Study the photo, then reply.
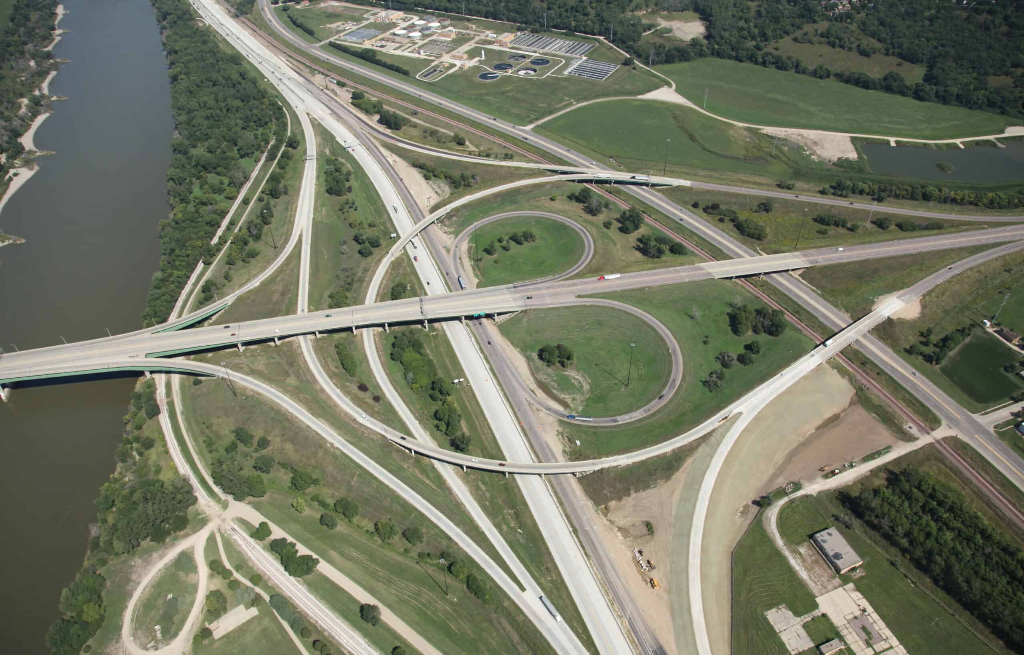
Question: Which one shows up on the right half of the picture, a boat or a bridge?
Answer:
bridge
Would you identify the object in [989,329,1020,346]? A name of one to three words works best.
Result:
house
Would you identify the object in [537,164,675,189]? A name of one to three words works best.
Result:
bridge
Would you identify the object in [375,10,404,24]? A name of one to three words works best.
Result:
building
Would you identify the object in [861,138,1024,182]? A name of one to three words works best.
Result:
pond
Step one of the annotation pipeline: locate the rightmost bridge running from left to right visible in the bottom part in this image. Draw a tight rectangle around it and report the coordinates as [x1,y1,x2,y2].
[388,431,598,478]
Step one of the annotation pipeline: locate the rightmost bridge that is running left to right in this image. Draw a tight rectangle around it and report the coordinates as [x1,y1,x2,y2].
[697,251,810,281]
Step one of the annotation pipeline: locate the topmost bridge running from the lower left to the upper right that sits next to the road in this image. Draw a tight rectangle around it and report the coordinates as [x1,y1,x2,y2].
[389,203,454,256]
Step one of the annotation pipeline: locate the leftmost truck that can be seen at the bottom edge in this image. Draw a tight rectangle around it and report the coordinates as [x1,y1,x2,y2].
[539,594,562,624]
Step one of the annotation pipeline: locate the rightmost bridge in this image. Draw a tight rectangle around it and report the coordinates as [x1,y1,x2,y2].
[801,303,896,368]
